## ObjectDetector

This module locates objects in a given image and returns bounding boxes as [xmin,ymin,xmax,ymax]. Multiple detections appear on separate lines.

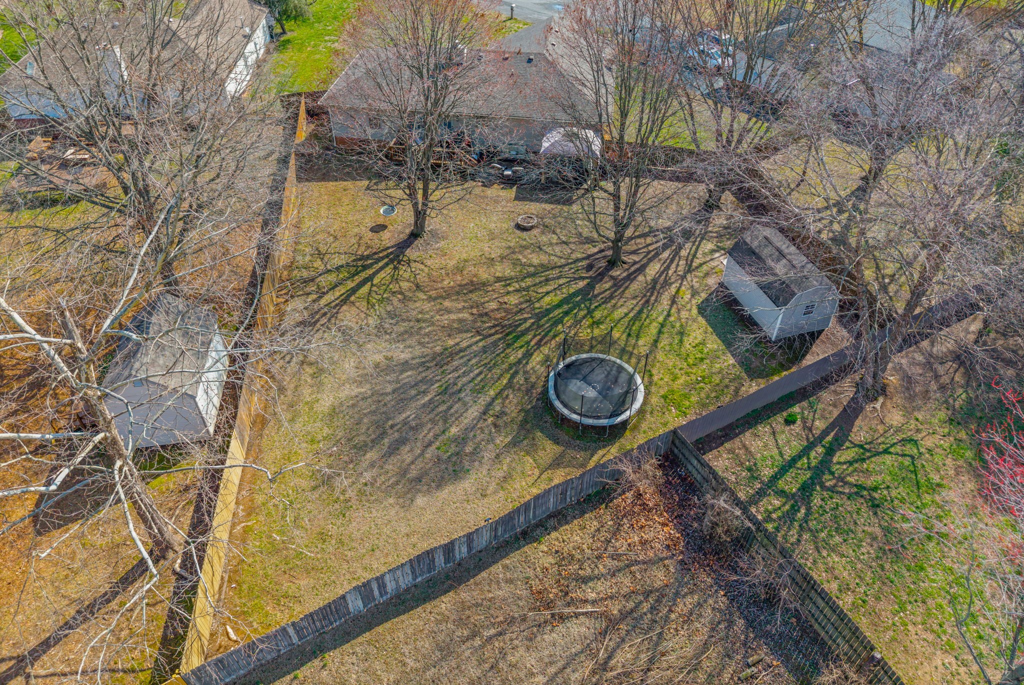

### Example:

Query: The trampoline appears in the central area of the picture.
[546,326,649,436]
